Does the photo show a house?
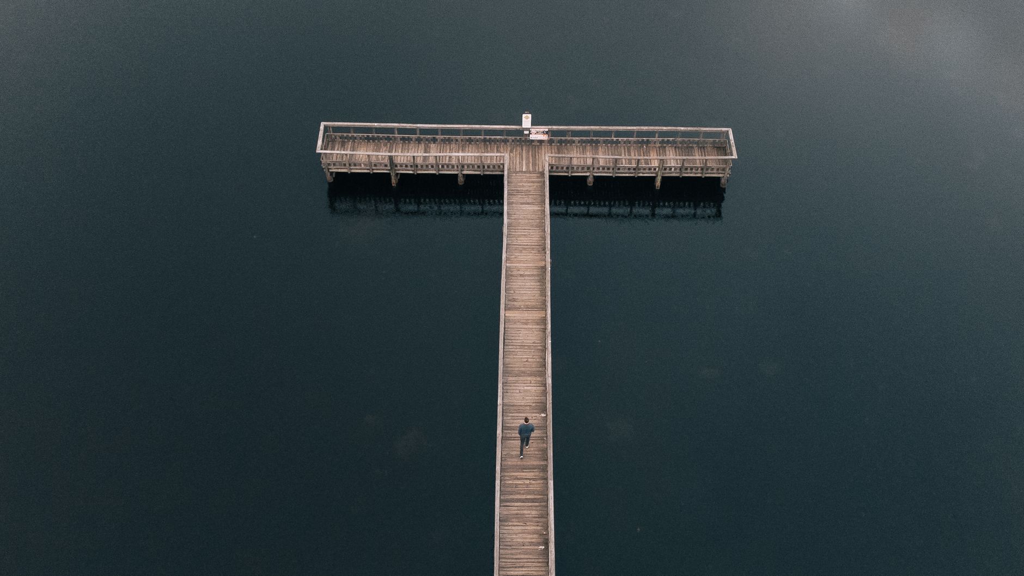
No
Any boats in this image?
No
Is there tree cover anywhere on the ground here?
No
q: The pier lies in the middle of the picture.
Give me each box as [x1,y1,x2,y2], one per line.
[316,122,737,576]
